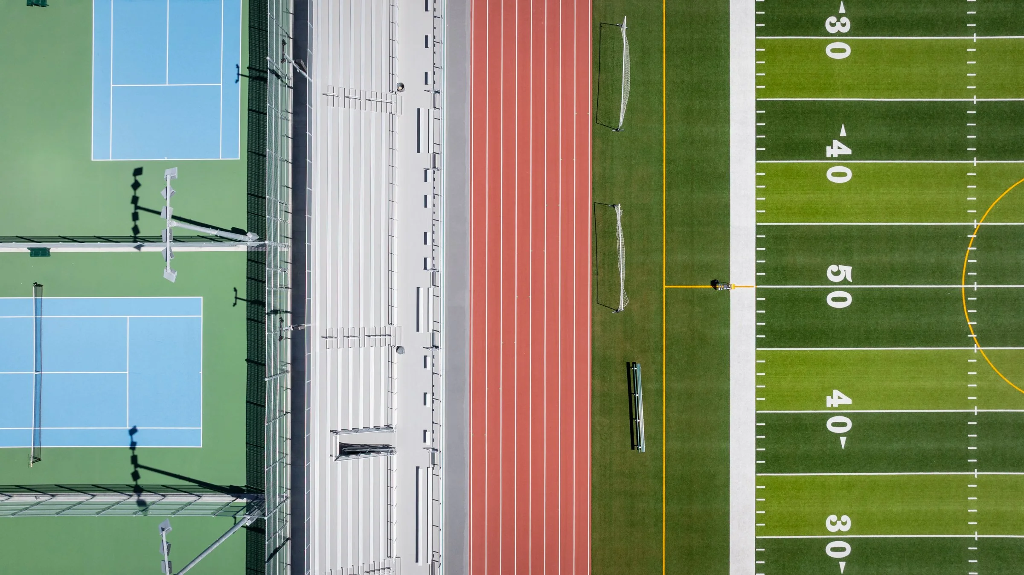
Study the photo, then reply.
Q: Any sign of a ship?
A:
No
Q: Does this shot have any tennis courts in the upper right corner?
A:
No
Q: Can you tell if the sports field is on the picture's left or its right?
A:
right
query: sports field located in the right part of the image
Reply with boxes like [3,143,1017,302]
[591,0,1024,575]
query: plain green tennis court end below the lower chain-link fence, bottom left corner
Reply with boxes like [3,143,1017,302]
[0,501,287,575]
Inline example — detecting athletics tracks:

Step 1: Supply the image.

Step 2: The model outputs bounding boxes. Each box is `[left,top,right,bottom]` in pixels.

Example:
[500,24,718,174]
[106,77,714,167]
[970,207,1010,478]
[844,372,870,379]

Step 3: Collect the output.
[469,0,592,575]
